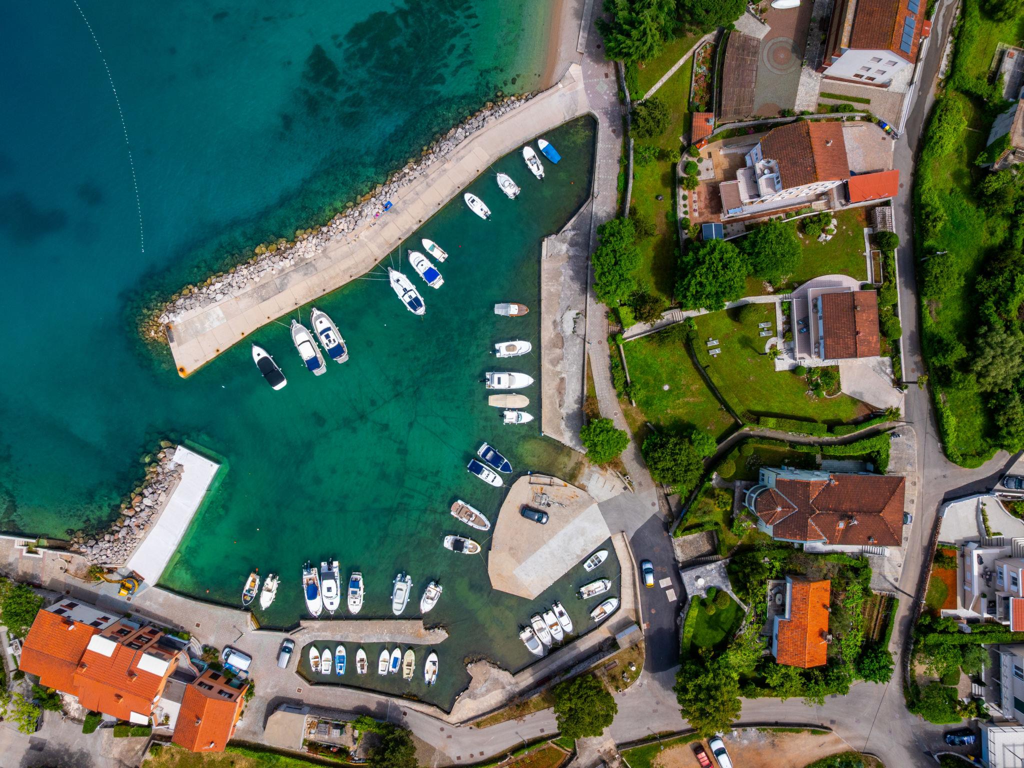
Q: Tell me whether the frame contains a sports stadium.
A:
No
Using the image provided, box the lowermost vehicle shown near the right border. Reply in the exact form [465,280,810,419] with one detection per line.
[943,730,977,747]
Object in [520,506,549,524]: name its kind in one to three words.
car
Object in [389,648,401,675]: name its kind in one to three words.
boat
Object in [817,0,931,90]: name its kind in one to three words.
house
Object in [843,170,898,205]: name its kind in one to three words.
building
